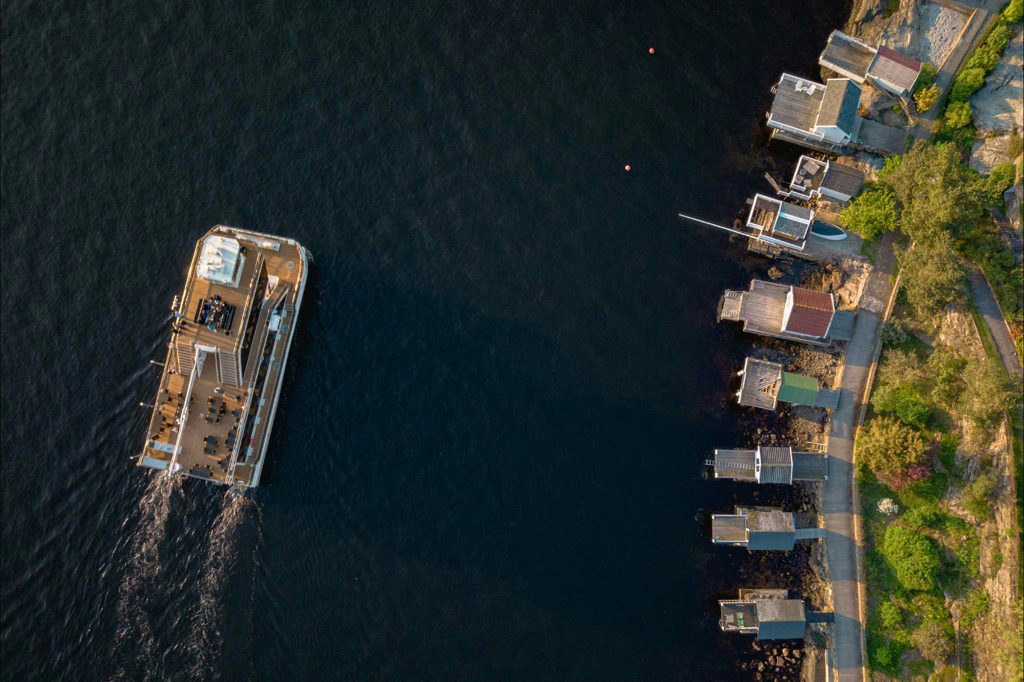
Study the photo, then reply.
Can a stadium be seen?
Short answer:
No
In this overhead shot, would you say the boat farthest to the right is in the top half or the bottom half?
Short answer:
top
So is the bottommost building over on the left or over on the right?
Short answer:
right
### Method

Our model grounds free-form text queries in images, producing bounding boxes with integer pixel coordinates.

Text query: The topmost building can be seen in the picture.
[813,29,923,101]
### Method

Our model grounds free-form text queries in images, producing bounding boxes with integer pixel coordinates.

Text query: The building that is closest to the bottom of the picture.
[714,588,807,640]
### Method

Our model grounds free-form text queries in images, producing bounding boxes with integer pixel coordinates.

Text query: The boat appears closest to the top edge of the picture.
[808,219,848,241]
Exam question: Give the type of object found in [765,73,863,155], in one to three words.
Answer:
building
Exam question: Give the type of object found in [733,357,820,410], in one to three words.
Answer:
building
